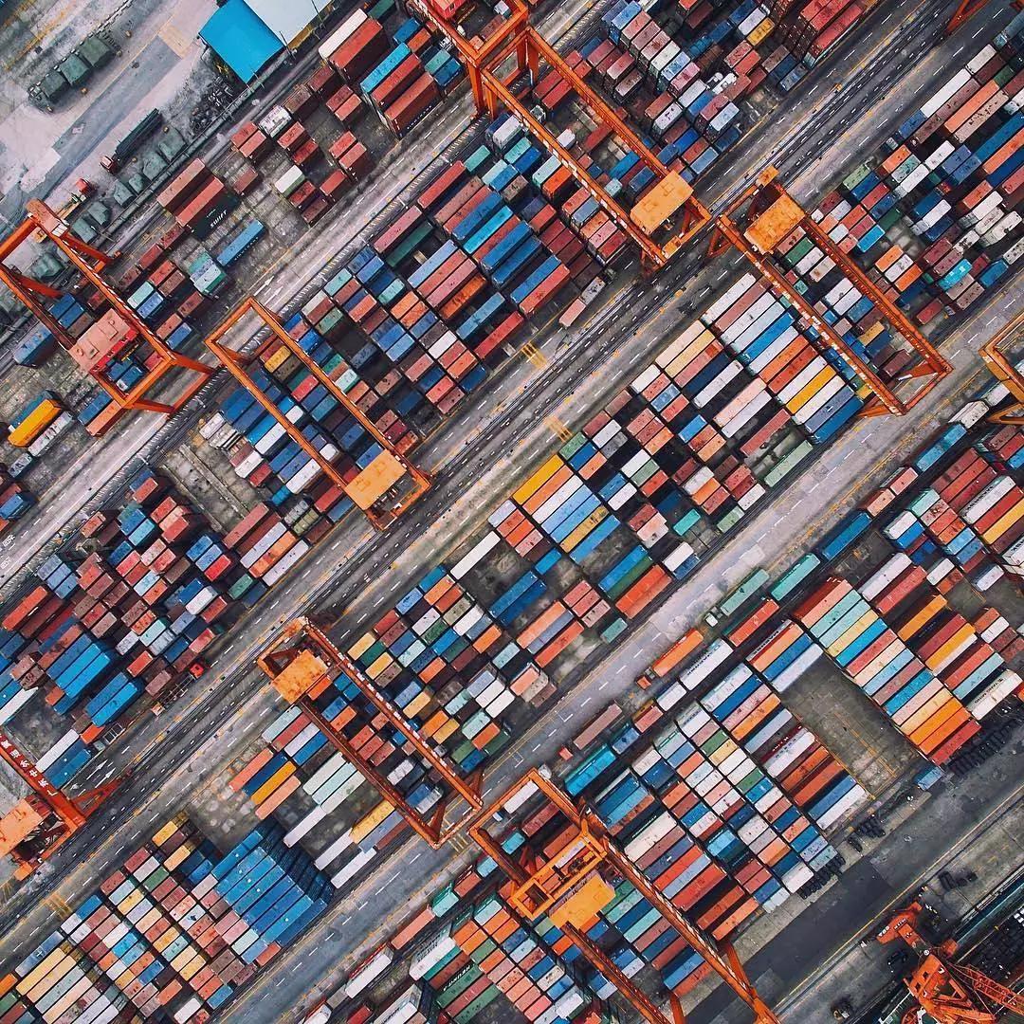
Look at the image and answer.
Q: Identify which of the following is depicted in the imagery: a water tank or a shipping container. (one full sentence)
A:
There is a shipping container in the scene.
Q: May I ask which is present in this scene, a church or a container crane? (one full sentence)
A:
This aerial view contains a container crane.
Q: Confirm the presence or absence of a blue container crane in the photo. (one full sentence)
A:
No, the scene contains no blue container crane.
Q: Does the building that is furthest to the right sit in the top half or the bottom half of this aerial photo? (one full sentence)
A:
You can find the building that is furthest to the right in the top half.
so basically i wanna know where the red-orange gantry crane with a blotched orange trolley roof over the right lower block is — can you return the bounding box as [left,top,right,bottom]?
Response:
[695,171,956,423]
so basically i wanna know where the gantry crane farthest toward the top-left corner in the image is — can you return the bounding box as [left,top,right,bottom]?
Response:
[0,193,221,417]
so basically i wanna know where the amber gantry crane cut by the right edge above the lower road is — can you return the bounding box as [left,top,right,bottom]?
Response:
[971,305,1024,433]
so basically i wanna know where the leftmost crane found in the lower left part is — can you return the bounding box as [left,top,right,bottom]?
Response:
[0,706,135,884]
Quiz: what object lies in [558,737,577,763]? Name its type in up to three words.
vehicle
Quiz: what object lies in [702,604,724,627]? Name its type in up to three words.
truck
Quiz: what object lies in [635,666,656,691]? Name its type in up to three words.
truck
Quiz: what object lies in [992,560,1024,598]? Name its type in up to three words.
shipping container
